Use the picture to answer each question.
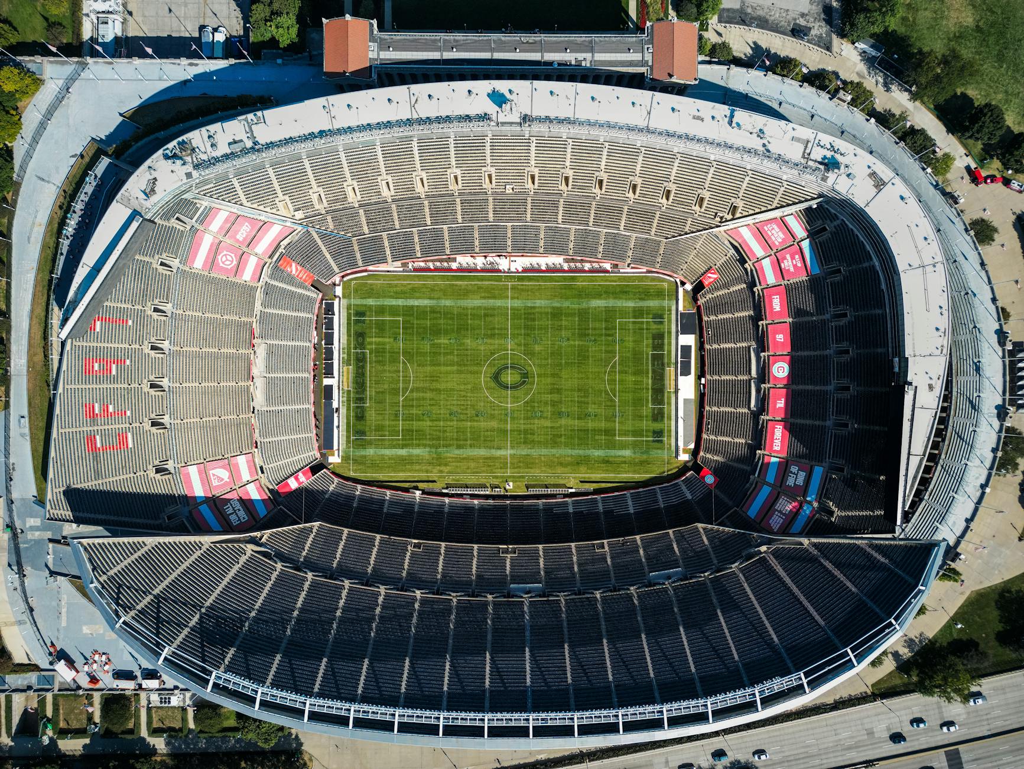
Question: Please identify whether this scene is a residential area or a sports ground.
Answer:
sports ground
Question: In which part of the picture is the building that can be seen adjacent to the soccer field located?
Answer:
top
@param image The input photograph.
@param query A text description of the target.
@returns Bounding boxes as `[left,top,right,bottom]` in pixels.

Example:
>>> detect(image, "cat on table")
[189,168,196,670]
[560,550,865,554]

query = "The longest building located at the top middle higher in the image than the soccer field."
[322,9,700,98]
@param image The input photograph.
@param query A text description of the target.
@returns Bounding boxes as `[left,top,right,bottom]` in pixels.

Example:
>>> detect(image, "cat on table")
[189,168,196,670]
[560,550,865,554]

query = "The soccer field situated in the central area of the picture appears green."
[330,272,692,499]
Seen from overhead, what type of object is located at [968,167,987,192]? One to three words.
vehicle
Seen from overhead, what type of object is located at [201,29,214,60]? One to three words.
vehicle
